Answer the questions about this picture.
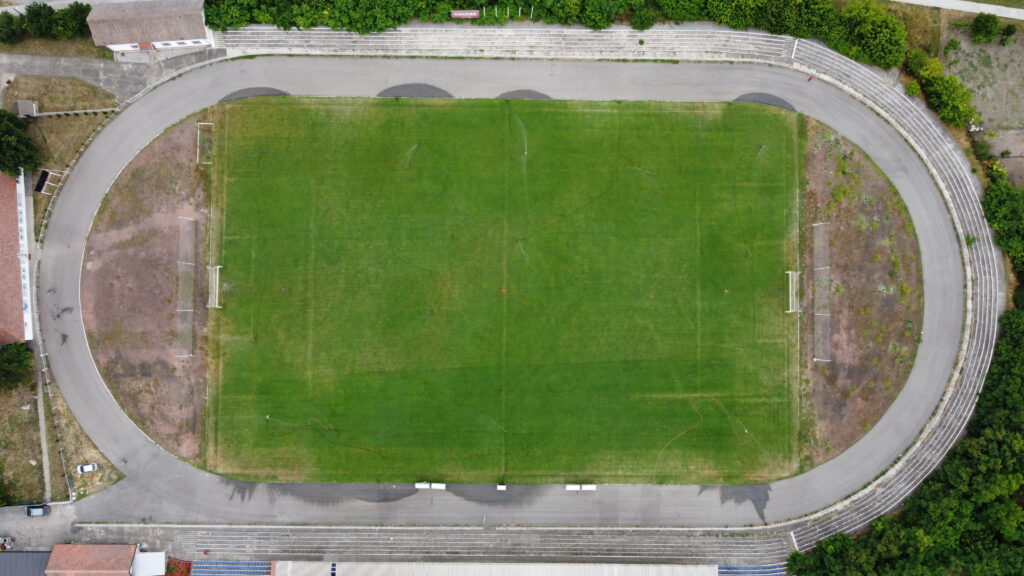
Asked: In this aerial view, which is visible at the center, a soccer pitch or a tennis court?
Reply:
soccer pitch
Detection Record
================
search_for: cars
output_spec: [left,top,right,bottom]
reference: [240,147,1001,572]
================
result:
[0,538,15,550]
[77,462,99,474]
[26,505,51,517]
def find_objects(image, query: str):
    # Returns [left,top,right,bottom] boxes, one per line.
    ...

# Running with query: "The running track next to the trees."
[39,58,964,526]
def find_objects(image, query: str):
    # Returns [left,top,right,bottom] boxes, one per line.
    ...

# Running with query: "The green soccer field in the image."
[205,95,809,485]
